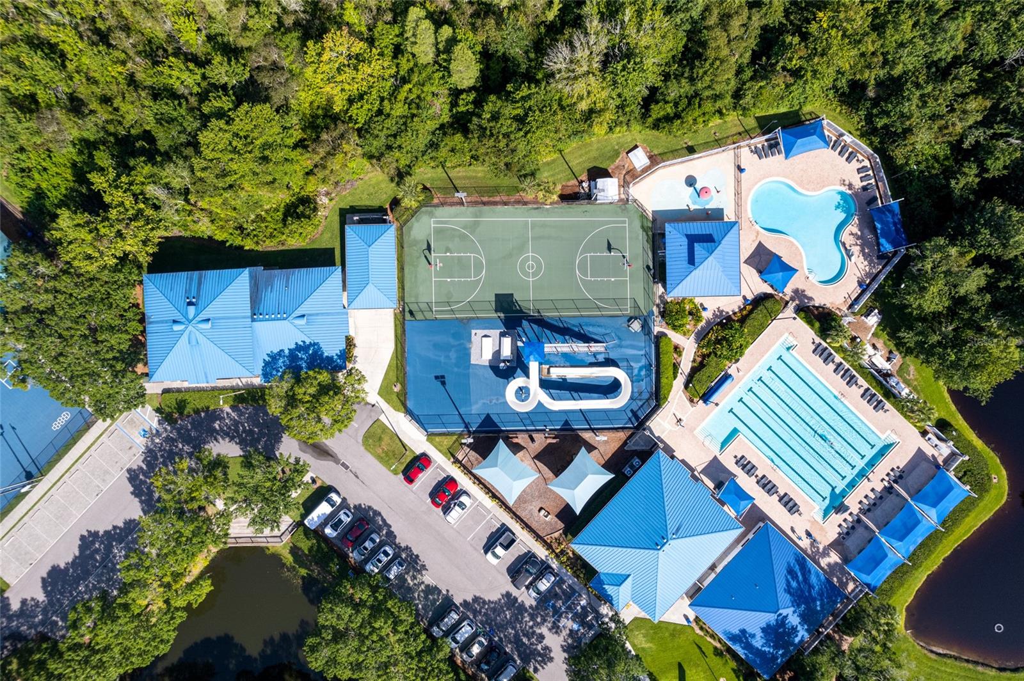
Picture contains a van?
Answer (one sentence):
Yes, a van can be made out from above.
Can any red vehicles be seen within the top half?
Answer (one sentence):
No, there is no red vehicle within the top half.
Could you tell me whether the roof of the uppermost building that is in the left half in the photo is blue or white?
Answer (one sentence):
The color of the roof of the uppermost building that is in the left half is blue.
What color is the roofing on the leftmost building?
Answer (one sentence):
The color of the roof on the leftmost building is blue.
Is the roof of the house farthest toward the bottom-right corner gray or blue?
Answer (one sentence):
The roof of the house farthest toward the bottom-right corner looks blue in the image.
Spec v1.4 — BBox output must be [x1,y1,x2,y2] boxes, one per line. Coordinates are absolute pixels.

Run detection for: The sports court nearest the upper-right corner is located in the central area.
[403,203,656,433]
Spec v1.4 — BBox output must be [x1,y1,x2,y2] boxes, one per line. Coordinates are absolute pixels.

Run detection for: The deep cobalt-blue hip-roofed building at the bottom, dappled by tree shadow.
[689,522,847,680]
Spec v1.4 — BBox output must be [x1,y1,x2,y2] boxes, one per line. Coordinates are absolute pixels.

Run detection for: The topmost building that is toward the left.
[345,214,397,309]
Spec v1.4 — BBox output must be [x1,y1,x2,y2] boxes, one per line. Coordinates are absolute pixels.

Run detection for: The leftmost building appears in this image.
[143,265,350,384]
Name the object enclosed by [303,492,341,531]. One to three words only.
van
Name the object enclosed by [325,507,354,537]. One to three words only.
car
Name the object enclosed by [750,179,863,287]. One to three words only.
swimming pool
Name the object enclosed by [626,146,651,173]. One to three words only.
shed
